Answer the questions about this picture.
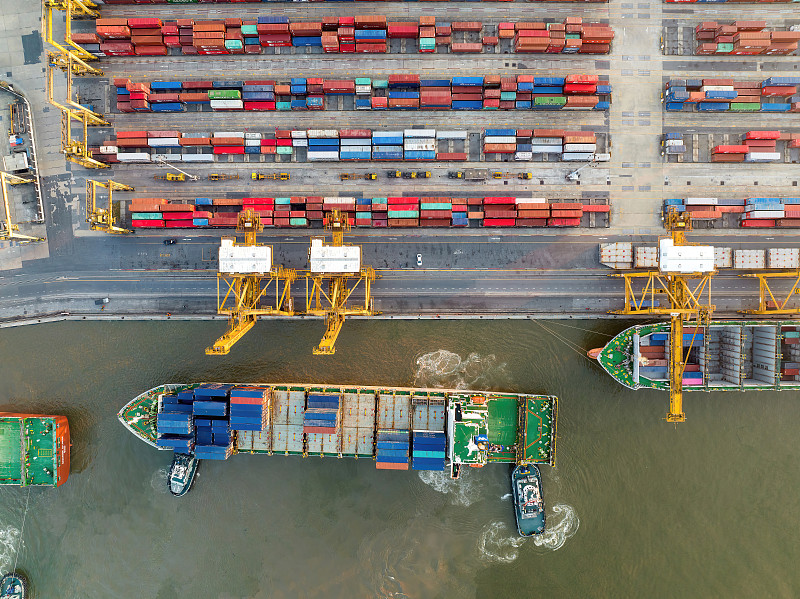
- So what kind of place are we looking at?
port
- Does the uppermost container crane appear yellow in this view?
Yes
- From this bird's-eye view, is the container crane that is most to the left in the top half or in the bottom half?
top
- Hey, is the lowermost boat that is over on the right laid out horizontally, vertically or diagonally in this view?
vertically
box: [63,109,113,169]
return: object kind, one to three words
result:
container crane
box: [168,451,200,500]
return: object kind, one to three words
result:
boat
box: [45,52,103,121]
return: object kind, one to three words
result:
container crane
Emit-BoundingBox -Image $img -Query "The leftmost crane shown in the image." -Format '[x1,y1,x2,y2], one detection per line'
[0,166,48,243]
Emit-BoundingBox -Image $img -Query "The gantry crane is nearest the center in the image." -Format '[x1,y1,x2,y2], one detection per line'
[305,205,388,358]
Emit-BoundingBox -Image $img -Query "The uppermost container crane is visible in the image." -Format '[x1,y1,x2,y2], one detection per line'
[45,0,103,63]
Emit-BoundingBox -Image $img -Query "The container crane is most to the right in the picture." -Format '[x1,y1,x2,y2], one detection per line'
[745,272,800,316]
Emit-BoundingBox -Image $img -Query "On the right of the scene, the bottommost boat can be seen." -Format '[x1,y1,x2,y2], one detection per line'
[512,465,546,538]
